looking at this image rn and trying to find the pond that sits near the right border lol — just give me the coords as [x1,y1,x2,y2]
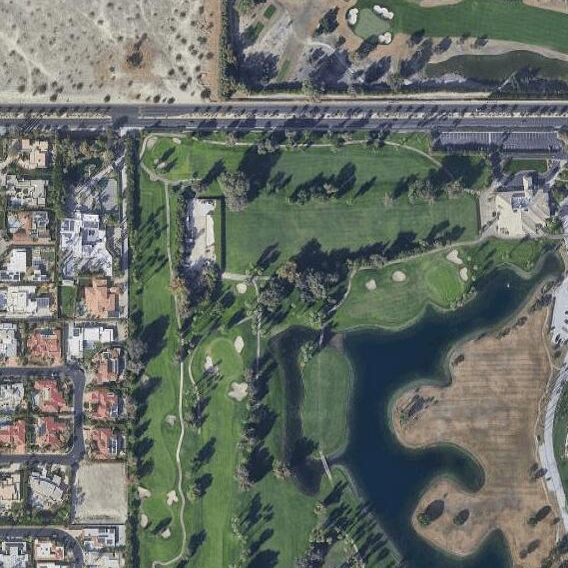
[426,50,568,82]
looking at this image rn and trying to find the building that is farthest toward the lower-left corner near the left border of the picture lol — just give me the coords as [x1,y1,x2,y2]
[0,542,27,568]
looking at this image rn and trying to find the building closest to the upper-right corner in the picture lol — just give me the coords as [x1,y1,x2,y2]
[497,176,551,235]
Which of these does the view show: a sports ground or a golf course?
golf course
